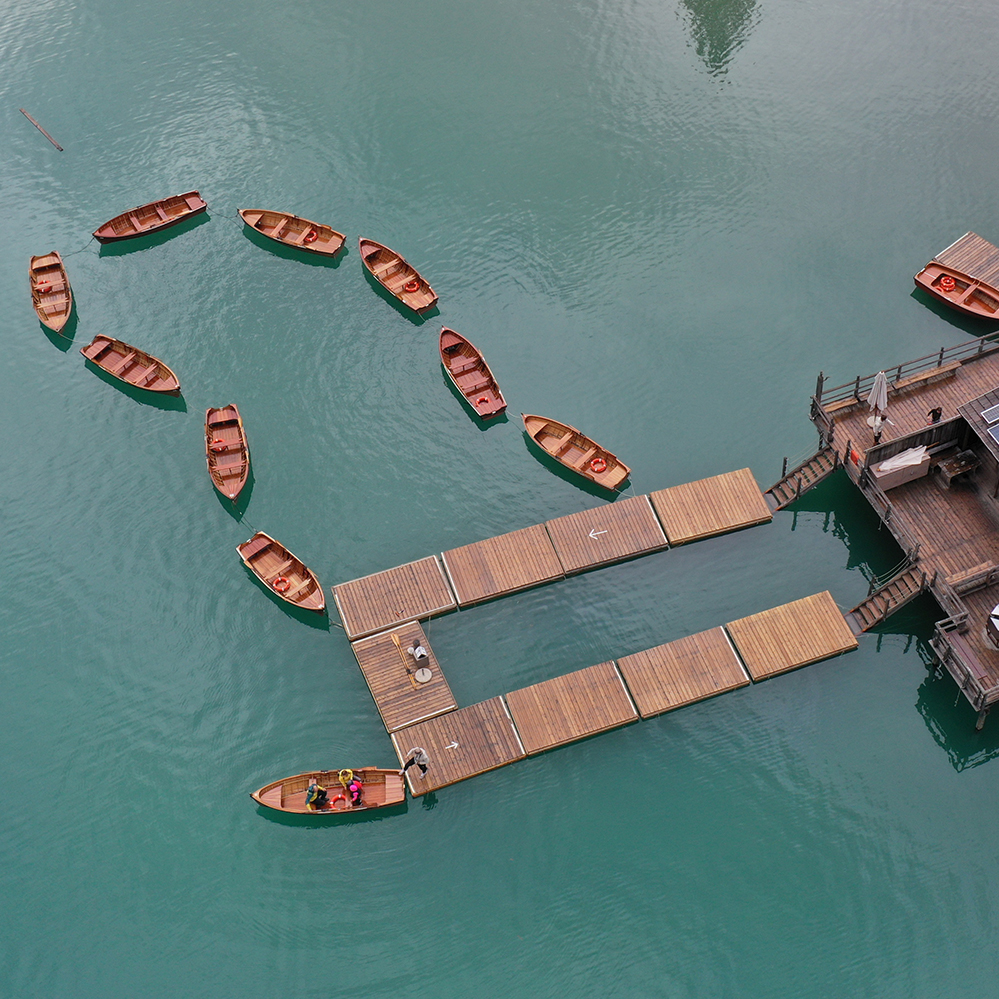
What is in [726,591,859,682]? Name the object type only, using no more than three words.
pier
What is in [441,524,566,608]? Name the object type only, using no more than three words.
pier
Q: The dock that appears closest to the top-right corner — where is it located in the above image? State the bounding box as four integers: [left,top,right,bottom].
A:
[934,230,999,300]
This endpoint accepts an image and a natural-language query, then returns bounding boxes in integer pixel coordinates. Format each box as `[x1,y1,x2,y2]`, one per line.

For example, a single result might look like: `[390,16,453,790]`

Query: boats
[79,333,180,394]
[204,402,249,501]
[234,528,328,617]
[440,323,507,420]
[915,260,999,322]
[358,234,439,315]
[28,250,72,336]
[237,206,346,259]
[522,411,631,492]
[92,188,207,243]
